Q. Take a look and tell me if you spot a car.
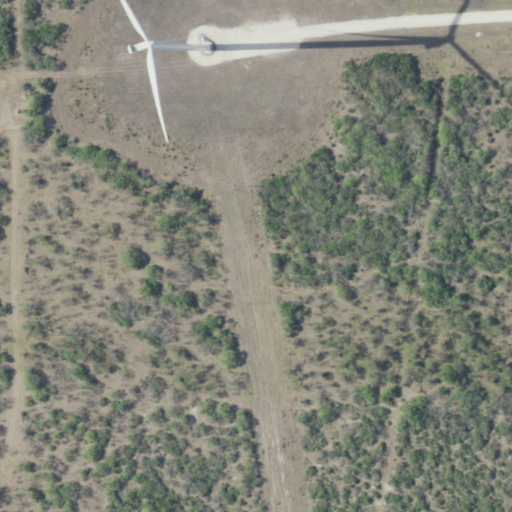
No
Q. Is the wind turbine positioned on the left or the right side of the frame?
left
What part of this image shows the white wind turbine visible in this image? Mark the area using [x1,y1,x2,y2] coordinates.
[120,0,218,141]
